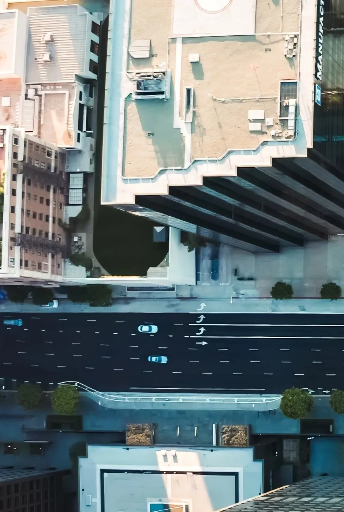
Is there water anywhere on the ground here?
No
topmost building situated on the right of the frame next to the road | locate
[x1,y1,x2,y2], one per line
[100,0,344,257]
